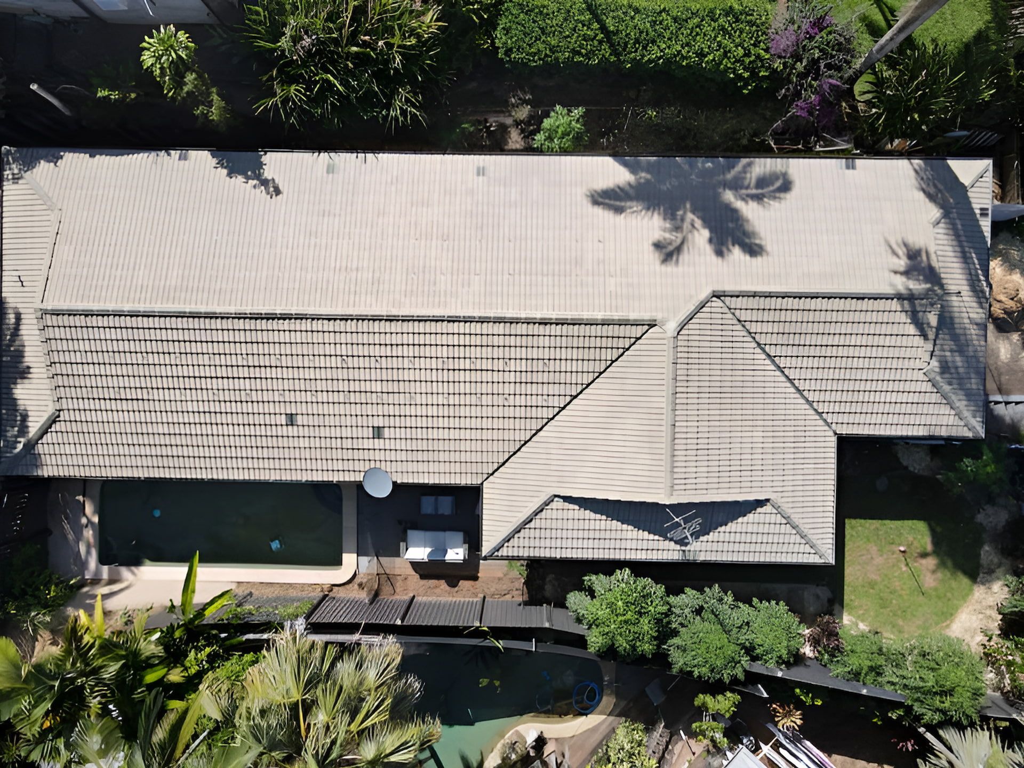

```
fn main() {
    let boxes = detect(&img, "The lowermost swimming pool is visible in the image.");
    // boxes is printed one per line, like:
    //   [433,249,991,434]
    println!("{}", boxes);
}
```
[217,627,619,768]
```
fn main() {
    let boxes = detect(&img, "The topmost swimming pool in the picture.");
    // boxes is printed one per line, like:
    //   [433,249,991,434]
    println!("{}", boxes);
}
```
[84,482,357,584]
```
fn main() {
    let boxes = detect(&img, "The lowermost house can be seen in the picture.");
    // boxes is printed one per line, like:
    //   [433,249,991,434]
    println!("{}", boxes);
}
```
[0,142,994,569]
